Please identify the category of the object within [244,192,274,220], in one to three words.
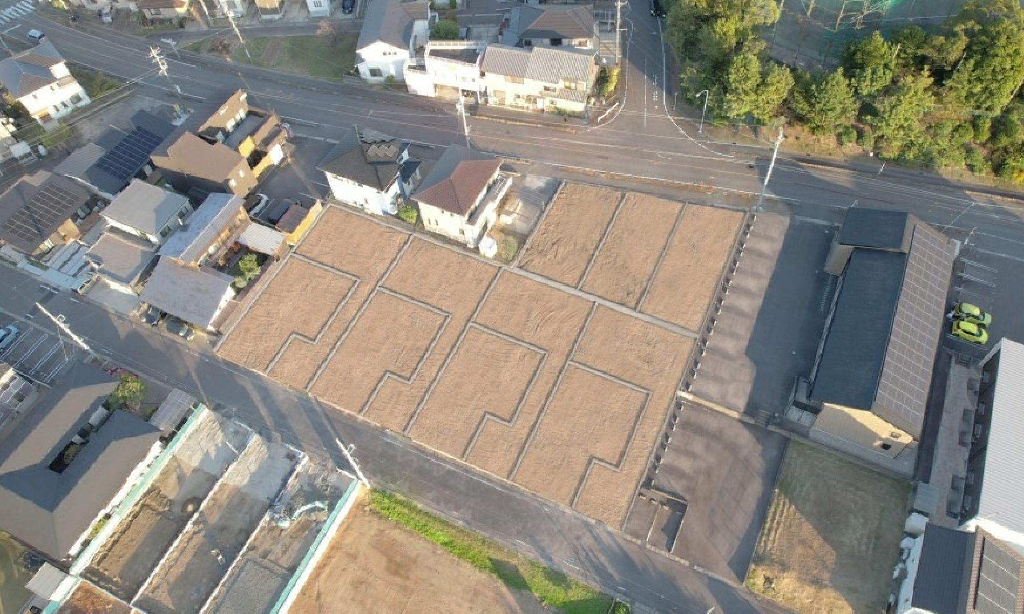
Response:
car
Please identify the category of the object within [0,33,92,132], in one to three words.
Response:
house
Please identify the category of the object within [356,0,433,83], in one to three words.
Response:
house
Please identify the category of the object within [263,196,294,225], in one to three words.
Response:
car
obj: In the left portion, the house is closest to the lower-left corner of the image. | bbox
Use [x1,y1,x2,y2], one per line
[24,566,66,600]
